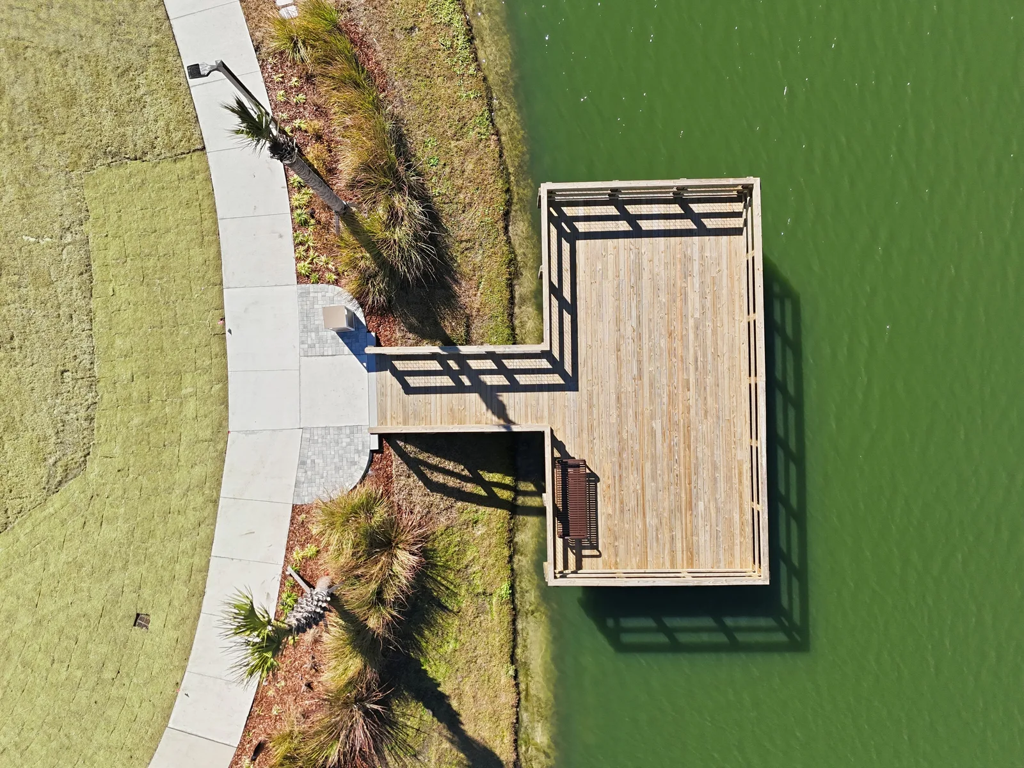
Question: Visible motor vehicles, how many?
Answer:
zero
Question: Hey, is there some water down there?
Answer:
Yes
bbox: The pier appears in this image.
[365,177,770,586]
